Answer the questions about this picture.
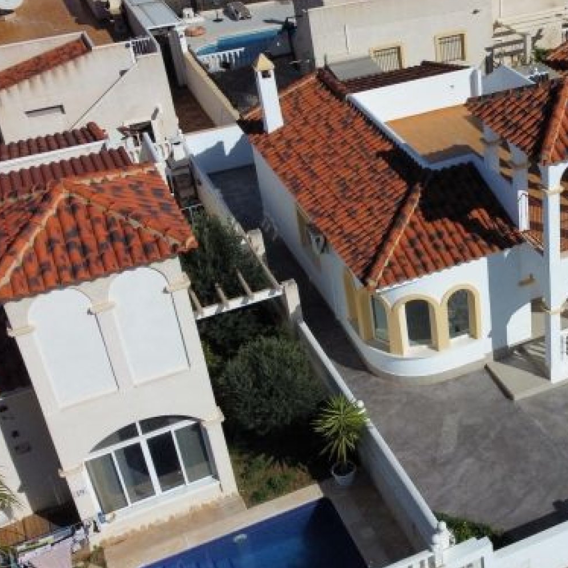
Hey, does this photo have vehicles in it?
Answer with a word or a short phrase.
No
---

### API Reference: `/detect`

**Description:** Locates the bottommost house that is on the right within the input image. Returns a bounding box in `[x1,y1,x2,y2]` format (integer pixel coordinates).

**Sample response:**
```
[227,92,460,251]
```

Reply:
[233,50,568,402]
